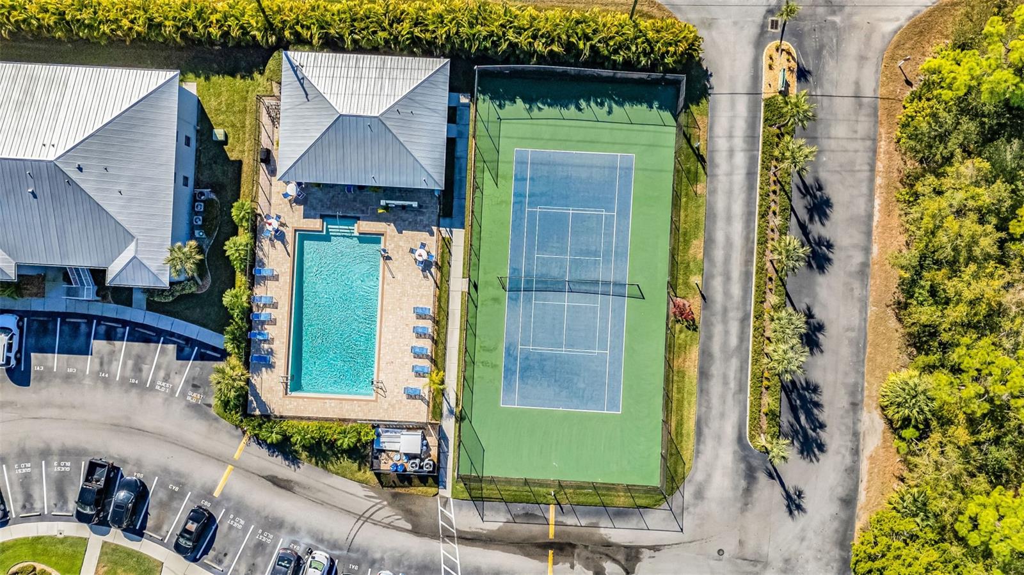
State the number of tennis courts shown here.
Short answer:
1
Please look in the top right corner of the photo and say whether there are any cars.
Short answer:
No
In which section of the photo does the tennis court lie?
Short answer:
center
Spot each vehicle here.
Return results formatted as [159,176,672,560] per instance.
[177,505,212,557]
[376,569,396,575]
[302,550,327,575]
[0,314,22,368]
[108,475,146,532]
[269,547,297,575]
[77,457,115,524]
[0,480,8,525]
[301,545,312,564]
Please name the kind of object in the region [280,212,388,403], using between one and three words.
swimming pool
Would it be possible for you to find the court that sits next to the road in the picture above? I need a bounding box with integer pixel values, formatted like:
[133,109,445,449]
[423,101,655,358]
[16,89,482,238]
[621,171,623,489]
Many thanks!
[459,74,678,487]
